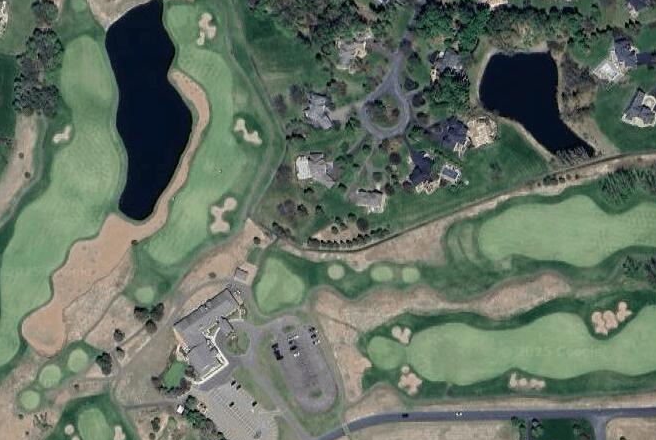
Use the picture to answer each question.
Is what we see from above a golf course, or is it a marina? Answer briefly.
golf course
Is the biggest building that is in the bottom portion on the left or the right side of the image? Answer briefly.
left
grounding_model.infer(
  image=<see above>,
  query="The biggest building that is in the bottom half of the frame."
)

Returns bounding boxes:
[175,288,243,384]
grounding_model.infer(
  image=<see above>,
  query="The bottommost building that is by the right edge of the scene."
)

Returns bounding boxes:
[623,86,656,126]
